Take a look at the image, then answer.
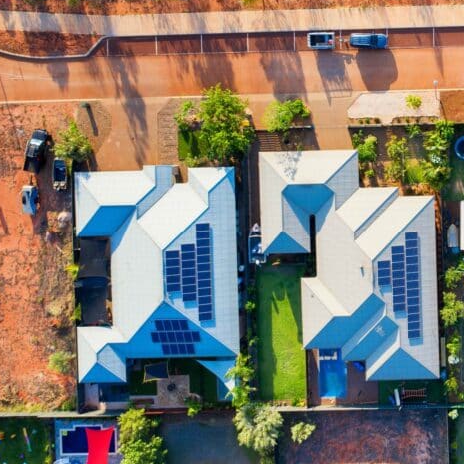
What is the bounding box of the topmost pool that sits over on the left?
[99,383,129,403]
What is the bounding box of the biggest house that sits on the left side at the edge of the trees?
[74,164,242,384]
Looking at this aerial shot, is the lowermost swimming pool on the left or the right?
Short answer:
left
